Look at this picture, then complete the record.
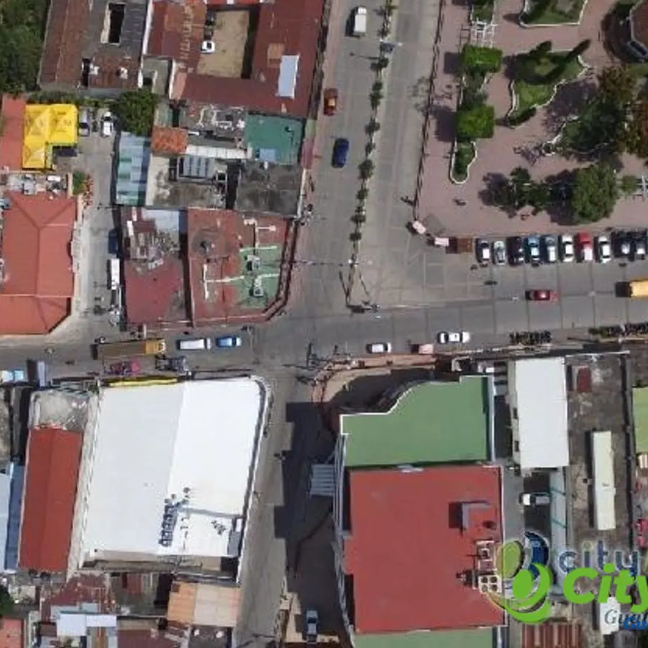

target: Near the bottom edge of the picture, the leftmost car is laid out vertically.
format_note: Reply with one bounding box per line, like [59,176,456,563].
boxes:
[305,608,318,634]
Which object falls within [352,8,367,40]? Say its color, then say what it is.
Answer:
white vehicle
